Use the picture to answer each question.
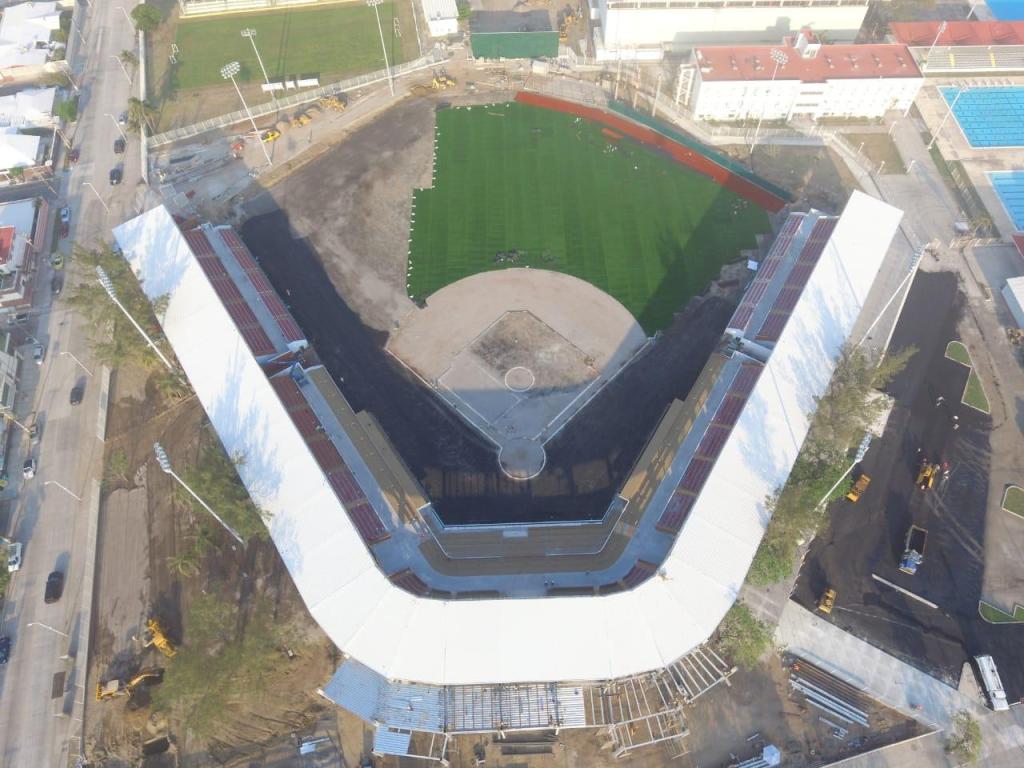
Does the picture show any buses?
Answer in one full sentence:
Yes, I can see a bus in this picture.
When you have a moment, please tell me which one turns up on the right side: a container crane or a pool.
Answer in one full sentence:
You can see a pool on the right side.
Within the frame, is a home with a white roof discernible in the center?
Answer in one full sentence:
No, the scene shows no home with a white roof in the center.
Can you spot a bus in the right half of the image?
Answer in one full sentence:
Yes, a bus can be seen in the right half of the image.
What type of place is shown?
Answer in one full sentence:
This image shows a sports ground.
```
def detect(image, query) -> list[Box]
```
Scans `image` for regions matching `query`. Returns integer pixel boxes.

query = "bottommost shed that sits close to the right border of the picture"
[994,277,1024,338]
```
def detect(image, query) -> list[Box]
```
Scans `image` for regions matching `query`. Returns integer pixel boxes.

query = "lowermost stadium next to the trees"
[113,190,904,683]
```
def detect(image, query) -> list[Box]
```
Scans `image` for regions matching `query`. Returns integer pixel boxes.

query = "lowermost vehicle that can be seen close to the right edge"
[968,656,1008,712]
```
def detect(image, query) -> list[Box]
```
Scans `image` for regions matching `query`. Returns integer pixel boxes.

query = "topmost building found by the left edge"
[0,1,67,60]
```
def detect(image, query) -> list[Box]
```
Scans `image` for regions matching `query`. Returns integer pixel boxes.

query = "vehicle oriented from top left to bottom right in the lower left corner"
[141,617,178,663]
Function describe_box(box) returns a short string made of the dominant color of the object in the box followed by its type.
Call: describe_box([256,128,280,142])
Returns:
yellow vehicle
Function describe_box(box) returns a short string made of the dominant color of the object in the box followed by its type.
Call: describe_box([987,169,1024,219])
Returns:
blue swimming pool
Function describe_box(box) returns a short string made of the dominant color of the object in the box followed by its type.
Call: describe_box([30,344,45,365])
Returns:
gray car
